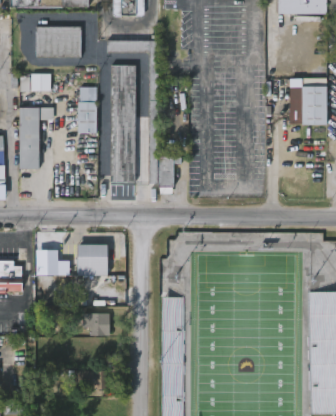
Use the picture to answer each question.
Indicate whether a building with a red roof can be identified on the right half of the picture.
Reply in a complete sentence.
No, looking on the right half of the picture, there is no building with a red roof.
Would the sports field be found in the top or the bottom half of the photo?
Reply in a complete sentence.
The sports field is in the bottom half of the image.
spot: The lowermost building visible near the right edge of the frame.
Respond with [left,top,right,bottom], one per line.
[290,78,326,126]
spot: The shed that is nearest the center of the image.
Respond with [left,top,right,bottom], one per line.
[159,158,182,194]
